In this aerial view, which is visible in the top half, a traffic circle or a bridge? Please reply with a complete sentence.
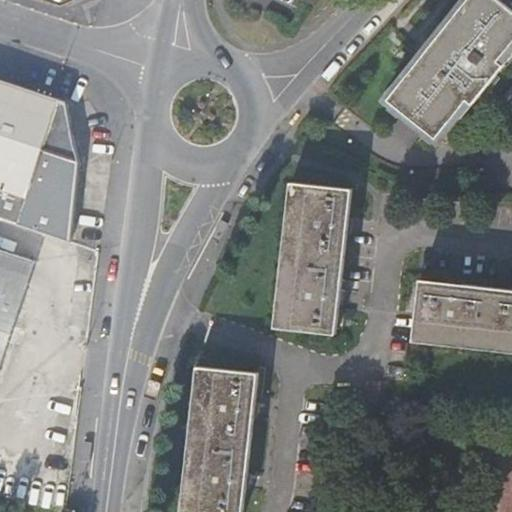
What appears in the top half is a traffic circle.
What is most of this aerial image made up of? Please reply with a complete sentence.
For the most part, this view shows paved ground.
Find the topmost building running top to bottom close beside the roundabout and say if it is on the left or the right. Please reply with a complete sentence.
The topmost building running top to bottom close beside the roundabout sits on the left side.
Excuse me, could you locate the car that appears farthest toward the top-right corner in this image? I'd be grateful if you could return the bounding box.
[364,16,382,35]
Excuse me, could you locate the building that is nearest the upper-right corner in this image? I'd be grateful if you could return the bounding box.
[379,0,512,146]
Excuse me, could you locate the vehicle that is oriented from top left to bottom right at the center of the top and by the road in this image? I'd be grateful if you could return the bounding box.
[215,46,233,68]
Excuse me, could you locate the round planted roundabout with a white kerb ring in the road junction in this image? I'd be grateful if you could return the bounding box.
[134,42,274,182]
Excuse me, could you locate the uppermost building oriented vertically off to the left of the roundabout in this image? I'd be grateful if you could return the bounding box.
[0,78,80,242]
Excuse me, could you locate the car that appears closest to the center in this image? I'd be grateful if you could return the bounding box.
[236,180,252,198]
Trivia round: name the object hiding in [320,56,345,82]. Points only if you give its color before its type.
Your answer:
white truck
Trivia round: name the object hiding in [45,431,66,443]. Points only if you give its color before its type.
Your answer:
white vehicle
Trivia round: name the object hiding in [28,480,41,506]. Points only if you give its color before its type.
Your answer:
white vehicle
